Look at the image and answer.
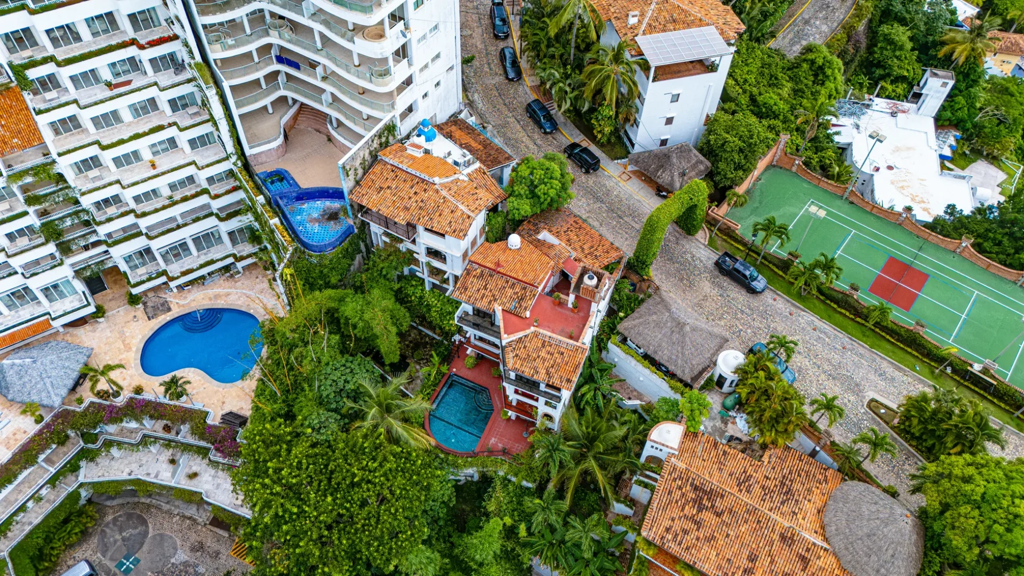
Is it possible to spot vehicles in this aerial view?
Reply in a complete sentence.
Yes, the frame does contain a vehicle.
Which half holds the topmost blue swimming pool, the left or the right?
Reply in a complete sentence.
It is on the left.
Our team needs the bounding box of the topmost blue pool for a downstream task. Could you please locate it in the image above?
[265,169,301,195]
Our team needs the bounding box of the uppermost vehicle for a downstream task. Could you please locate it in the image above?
[487,0,512,36]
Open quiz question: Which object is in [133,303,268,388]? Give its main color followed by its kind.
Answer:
blue swimming pool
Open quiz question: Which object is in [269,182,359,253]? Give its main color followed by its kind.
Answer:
blue swimming pool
